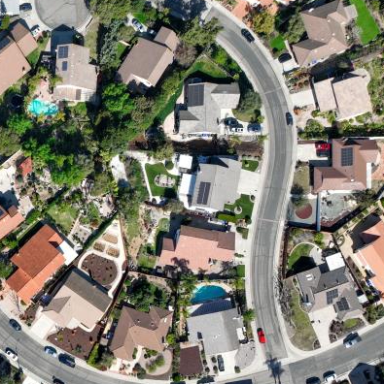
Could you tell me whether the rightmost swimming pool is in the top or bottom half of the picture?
bottom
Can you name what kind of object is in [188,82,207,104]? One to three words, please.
solar panel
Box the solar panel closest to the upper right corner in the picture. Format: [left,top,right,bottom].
[341,145,355,166]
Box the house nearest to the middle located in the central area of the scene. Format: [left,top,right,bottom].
[176,154,241,215]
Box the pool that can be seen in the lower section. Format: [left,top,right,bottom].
[191,284,229,305]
